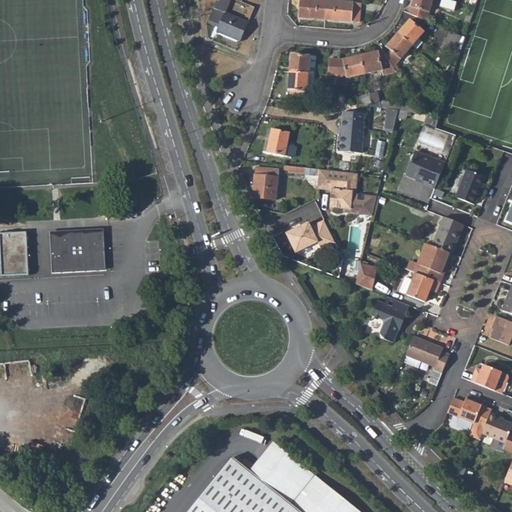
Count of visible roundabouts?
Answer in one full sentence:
The picture shows just 1 roundabout.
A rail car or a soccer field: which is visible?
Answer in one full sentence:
Visible in the photo is a soccer field.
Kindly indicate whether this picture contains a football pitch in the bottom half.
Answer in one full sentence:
No, there is no football pitch in the bottom half.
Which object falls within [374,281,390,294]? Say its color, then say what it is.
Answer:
white vehicle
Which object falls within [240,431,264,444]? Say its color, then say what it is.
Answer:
white vehicle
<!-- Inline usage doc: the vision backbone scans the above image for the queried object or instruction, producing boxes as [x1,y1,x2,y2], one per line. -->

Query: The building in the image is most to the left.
[0,230,29,276]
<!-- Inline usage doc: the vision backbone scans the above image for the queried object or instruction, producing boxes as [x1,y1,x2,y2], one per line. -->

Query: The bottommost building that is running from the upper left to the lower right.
[252,442,362,512]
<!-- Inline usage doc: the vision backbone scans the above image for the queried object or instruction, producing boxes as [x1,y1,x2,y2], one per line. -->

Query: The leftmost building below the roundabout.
[186,458,306,512]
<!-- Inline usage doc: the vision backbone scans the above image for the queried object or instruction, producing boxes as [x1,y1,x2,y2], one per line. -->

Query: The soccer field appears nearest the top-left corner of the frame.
[0,0,86,172]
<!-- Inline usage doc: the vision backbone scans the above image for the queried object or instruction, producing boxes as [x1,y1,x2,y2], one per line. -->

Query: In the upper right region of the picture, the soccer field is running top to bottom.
[446,0,512,144]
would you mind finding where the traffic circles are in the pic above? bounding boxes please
[186,270,312,400]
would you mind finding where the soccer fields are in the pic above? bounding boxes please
[446,0,512,144]
[0,0,86,172]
